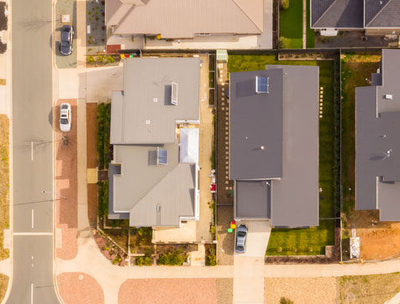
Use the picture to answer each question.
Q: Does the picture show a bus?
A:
No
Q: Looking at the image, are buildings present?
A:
Yes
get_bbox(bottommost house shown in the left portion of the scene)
[109,58,202,228]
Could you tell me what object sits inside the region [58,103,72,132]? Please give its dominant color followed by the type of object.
white car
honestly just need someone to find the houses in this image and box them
[356,49,400,224]
[311,0,400,33]
[109,58,202,228]
[106,0,263,42]
[229,66,319,229]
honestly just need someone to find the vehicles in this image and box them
[60,24,74,55]
[233,225,247,254]
[58,103,72,132]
